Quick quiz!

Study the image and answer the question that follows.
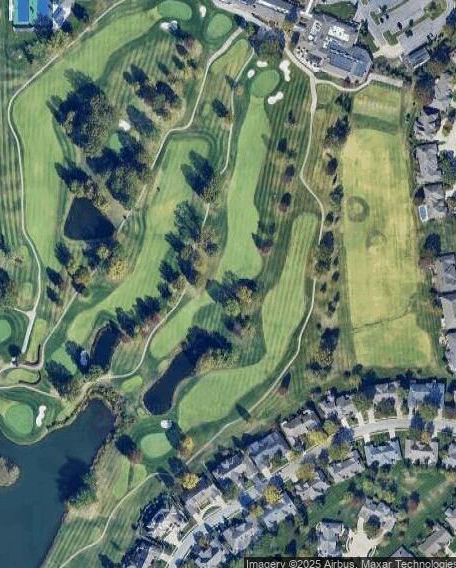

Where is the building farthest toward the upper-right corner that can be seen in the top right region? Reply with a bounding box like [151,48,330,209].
[401,42,434,71]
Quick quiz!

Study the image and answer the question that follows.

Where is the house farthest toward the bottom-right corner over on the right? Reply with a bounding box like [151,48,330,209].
[418,530,451,559]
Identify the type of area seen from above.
golf course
